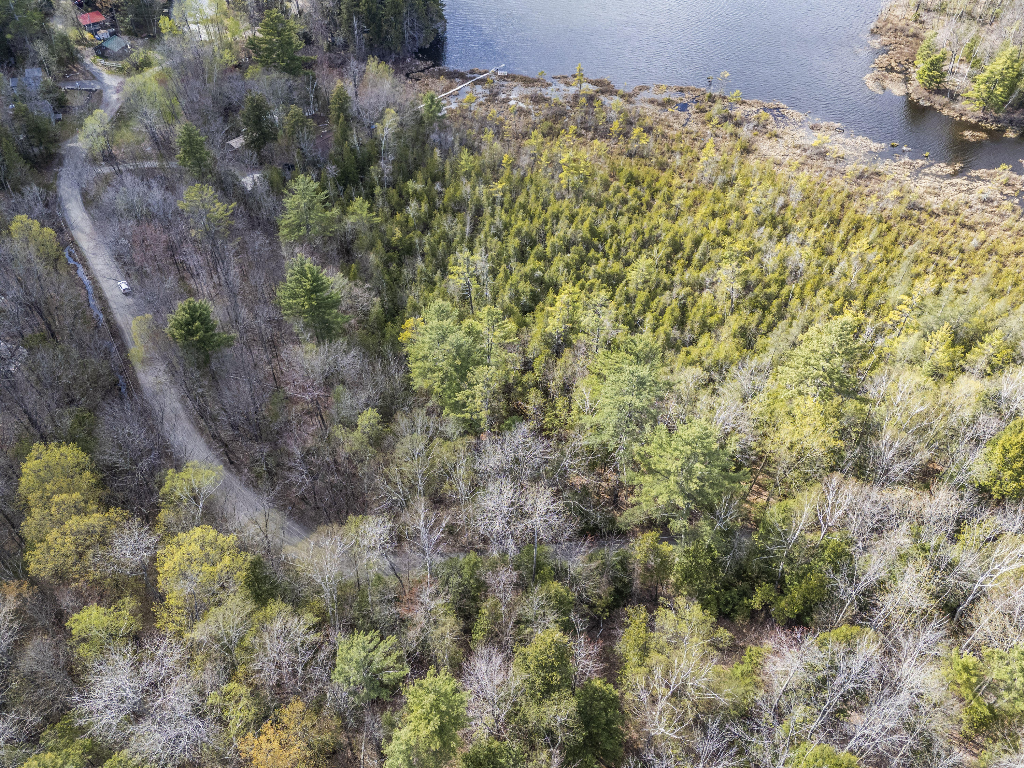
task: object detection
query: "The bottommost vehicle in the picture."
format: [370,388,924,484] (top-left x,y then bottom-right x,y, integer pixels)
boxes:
[117,280,130,292]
